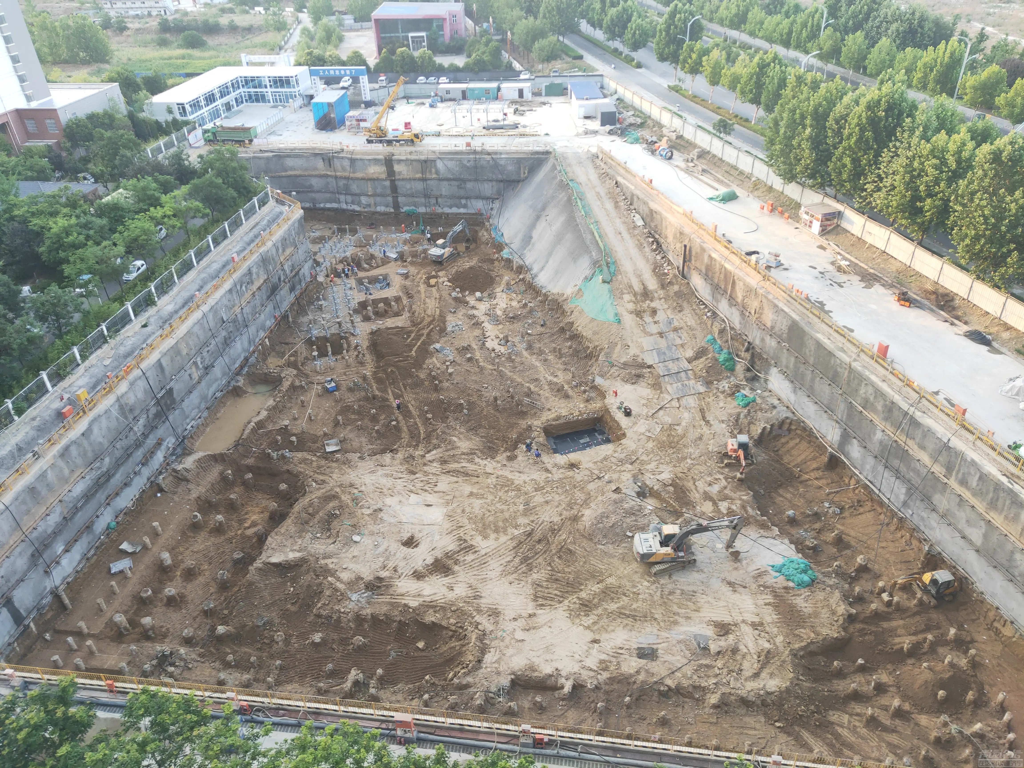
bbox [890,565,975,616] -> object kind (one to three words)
work vehicle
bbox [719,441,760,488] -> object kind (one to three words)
work vehicle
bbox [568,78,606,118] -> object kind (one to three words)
house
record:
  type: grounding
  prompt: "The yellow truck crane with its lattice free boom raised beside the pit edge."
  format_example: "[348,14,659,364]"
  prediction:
[365,77,425,141]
